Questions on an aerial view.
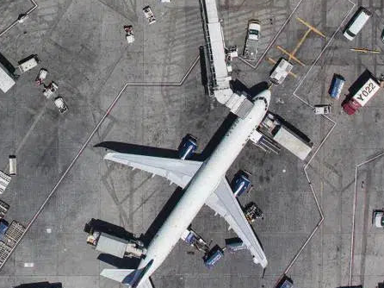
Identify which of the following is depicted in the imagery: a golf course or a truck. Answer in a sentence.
I can see a truck in this picture.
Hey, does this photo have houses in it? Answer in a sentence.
No, the scene contains no house.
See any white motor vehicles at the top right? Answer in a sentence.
Yes, a white motor vehicle can be seen at the top right.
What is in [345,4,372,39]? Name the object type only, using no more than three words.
bus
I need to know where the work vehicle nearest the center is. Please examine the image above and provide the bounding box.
[253,130,282,154]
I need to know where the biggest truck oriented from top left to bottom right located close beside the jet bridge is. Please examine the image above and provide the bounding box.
[265,114,316,158]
